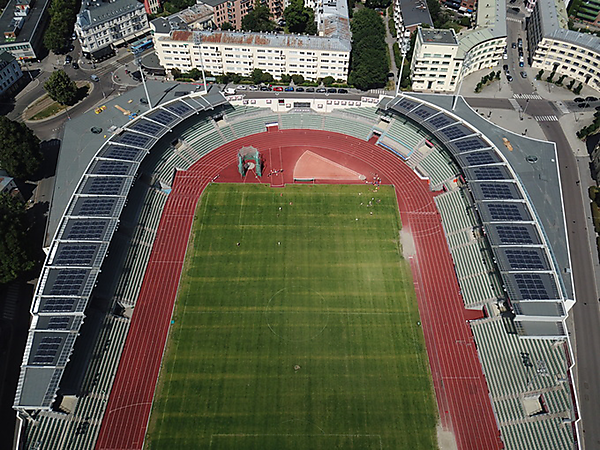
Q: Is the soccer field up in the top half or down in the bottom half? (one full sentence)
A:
You can find the soccer field in the bottom half.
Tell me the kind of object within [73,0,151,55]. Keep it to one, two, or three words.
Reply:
building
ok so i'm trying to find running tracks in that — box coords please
[98,128,502,450]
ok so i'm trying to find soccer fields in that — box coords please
[145,184,444,450]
